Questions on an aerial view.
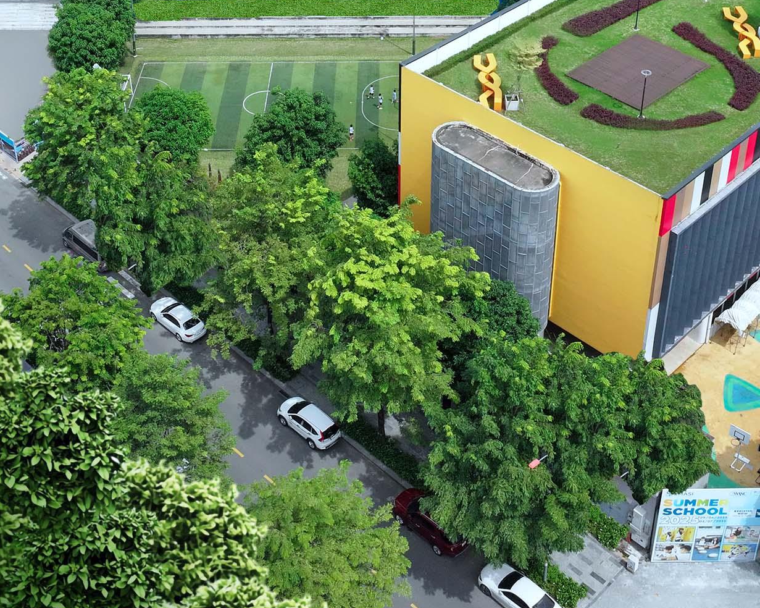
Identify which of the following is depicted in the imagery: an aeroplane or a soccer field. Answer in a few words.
soccer field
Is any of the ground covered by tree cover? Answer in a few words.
Yes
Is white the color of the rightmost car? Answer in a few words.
Yes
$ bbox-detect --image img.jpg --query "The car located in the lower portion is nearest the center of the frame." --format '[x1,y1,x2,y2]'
[278,398,343,452]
